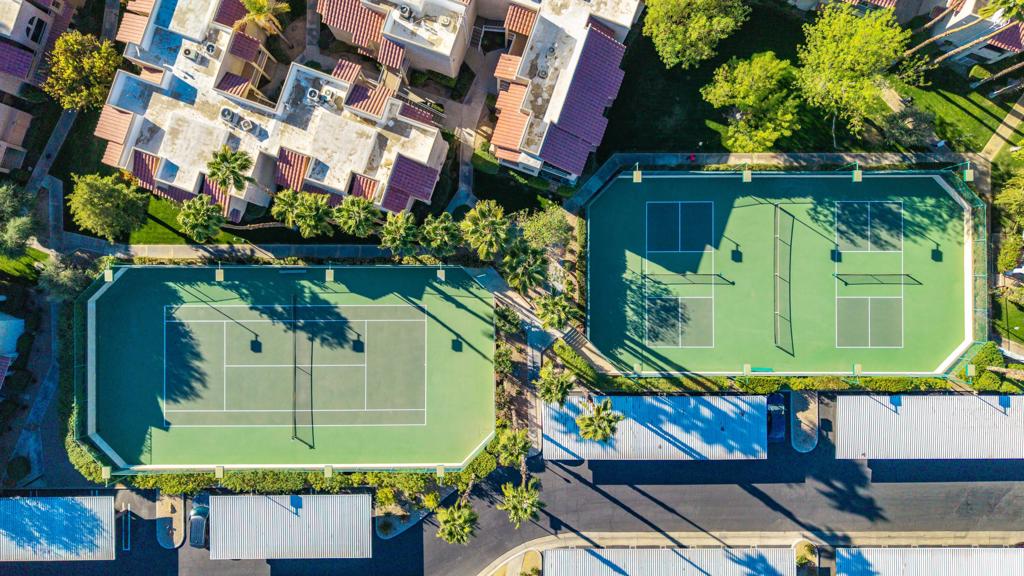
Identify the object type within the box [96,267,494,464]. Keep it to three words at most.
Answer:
tennis court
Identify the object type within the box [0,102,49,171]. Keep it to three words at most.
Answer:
building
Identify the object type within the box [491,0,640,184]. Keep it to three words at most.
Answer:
building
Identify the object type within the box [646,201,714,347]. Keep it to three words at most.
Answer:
sports court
